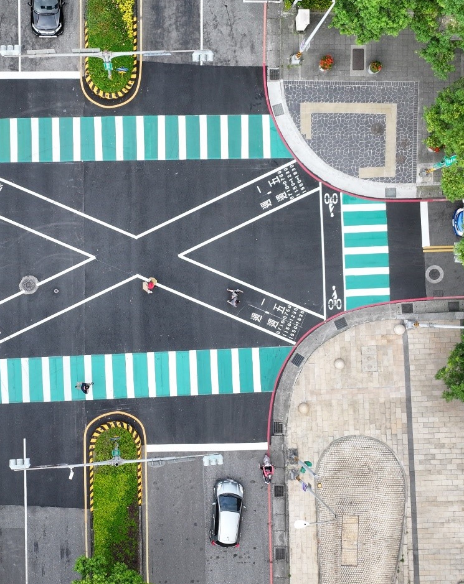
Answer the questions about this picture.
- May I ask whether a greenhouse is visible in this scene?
No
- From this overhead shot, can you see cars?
Yes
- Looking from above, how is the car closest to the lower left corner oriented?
from top to bottom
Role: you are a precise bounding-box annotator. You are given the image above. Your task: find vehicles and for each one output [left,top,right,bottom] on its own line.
[262,454,279,486]
[453,208,464,235]
[28,0,67,35]
[209,475,246,549]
